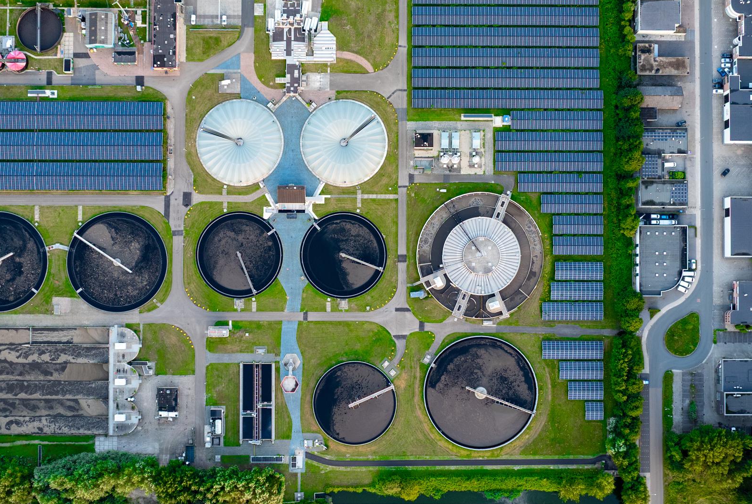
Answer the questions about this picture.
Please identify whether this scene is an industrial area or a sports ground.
industrial area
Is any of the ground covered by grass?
Yes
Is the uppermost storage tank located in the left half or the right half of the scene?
left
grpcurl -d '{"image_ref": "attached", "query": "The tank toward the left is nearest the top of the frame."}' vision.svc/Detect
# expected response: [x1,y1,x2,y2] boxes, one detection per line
[16,1,65,54]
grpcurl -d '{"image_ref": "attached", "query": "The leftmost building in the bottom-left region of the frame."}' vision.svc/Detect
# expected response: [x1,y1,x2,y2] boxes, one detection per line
[158,386,179,416]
